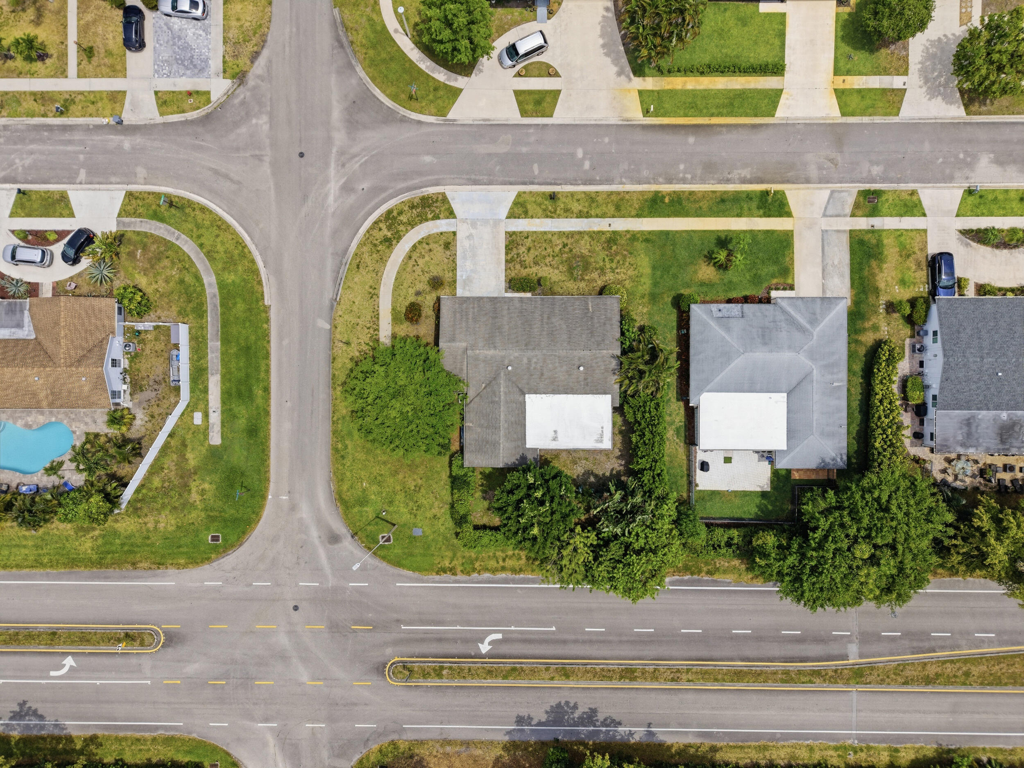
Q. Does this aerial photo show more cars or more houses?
cars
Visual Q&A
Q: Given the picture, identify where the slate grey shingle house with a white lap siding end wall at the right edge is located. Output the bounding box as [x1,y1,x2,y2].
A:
[919,296,1024,456]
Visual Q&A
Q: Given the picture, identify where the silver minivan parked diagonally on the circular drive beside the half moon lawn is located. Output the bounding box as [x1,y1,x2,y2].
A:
[496,26,551,70]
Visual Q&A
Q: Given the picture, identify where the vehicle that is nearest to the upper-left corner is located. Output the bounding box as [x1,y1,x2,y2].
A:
[118,3,148,53]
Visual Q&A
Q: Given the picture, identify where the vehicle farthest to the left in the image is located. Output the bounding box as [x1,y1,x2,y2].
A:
[1,242,54,268]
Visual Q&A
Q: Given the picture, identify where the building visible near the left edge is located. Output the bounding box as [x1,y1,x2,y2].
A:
[0,295,134,412]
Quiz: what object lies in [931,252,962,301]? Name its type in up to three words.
car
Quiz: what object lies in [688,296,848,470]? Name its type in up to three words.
house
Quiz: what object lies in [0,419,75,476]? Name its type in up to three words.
swimming pool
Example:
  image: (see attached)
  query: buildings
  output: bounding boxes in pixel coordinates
[688,296,848,470]
[0,295,134,412]
[439,295,623,469]
[919,296,1024,456]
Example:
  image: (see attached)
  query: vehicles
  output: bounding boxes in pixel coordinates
[931,252,962,301]
[60,224,94,267]
[496,26,551,70]
[1,242,54,268]
[156,0,209,20]
[118,3,148,53]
